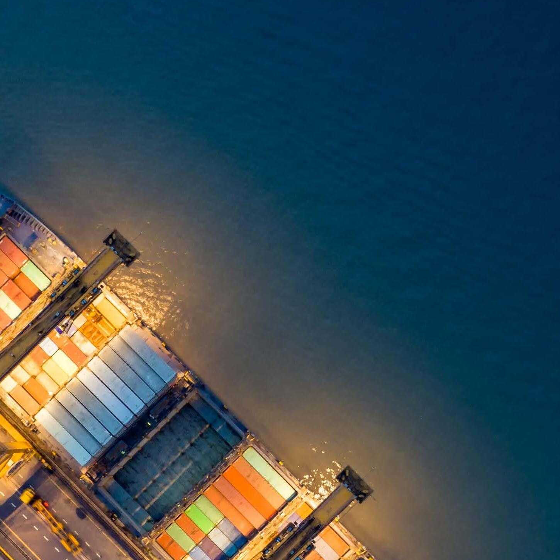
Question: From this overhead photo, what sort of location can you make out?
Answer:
port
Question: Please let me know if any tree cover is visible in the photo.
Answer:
No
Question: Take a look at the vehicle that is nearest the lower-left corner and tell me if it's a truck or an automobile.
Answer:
truck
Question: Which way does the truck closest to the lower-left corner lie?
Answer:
at an angle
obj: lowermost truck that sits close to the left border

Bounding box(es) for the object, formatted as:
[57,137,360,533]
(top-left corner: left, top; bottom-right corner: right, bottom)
[19,487,86,555]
